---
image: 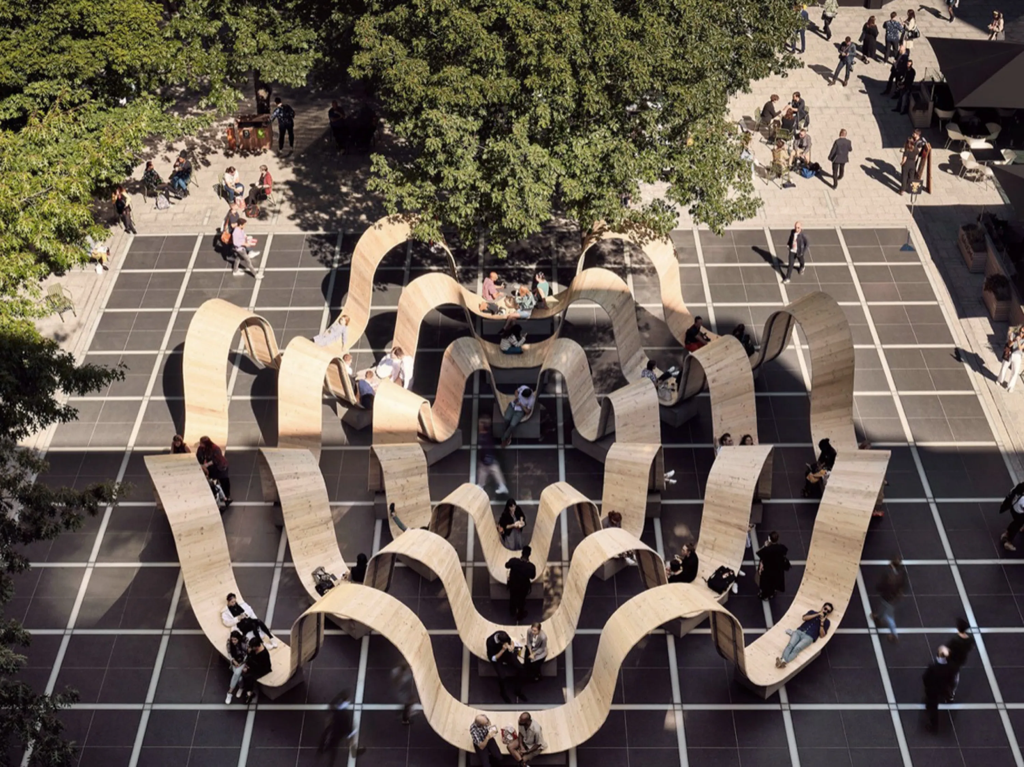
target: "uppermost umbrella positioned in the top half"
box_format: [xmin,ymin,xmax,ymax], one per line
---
[922,34,1024,150]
